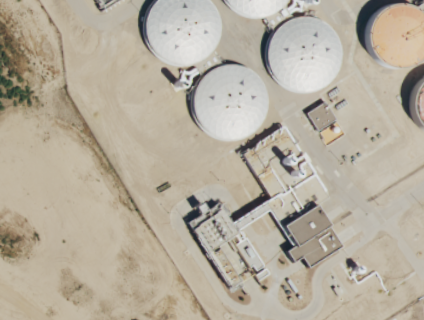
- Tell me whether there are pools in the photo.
No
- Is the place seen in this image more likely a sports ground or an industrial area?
industrial area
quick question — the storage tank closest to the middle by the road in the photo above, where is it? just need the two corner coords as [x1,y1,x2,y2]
[191,64,268,142]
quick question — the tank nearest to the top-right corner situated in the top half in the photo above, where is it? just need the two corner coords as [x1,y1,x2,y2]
[364,4,424,70]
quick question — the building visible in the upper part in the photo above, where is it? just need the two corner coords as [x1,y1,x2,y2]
[306,103,335,132]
